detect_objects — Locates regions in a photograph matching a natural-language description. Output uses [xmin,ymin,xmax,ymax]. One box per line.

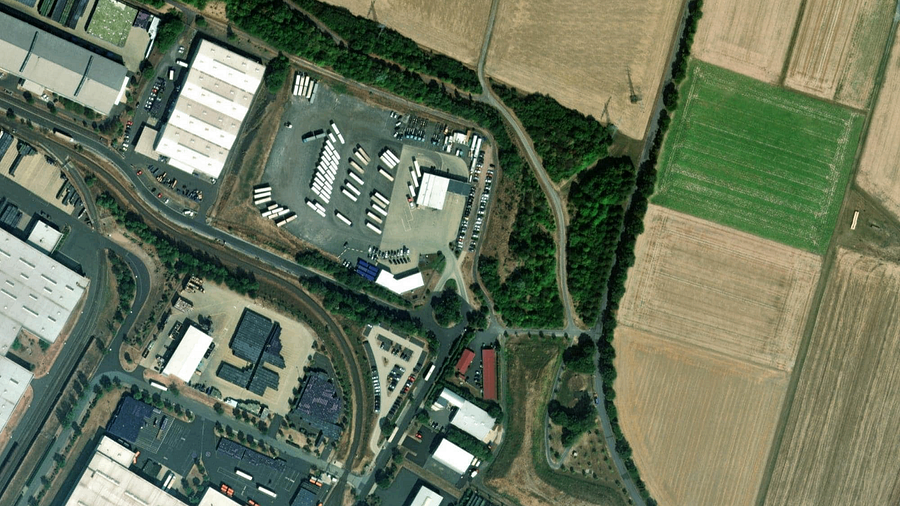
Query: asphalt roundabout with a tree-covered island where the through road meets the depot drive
[422,286,472,334]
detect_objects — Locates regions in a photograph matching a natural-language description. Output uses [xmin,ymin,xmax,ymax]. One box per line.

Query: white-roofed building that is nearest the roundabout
[375,270,424,295]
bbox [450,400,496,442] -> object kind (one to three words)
building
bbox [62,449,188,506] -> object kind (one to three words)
building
